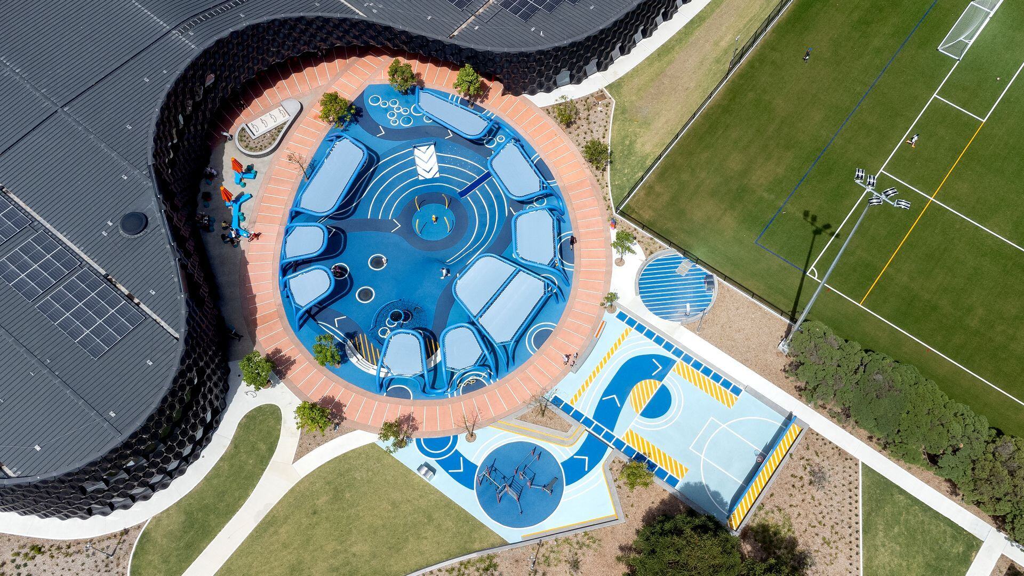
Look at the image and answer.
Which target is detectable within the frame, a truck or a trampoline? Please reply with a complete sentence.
There is a trampoline in the scene.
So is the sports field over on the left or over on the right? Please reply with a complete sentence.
The sports field appears in the right half of the scene.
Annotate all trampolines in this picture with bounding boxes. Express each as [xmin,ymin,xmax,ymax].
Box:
[368,253,387,270]
[330,262,350,279]
[355,286,375,304]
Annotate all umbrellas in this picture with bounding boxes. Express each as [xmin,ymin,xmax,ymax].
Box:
[233,160,245,180]
[220,186,233,202]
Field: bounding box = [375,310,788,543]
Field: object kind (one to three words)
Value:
sports court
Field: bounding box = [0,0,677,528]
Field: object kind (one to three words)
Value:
building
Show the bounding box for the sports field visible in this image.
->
[618,0,1024,437]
